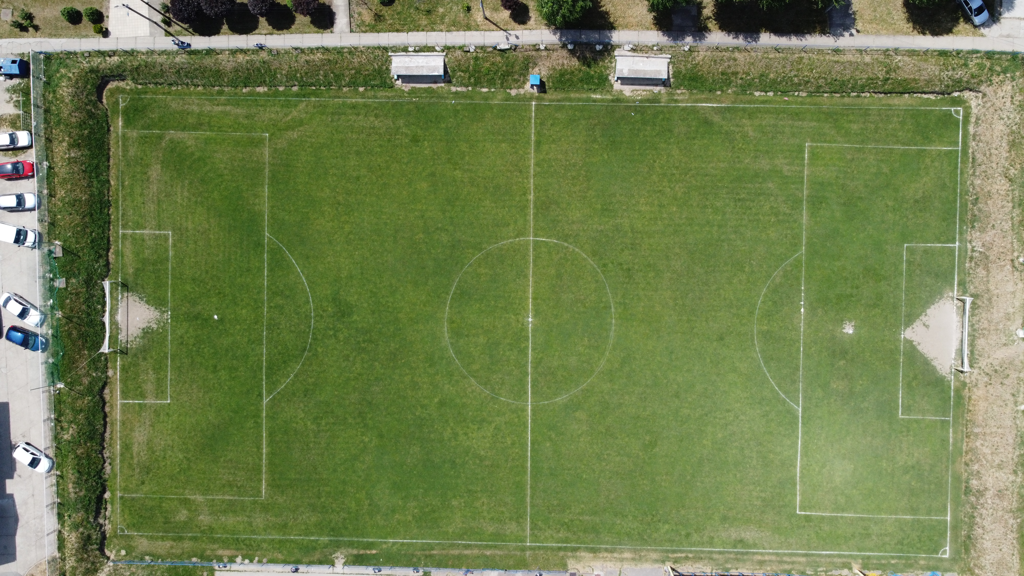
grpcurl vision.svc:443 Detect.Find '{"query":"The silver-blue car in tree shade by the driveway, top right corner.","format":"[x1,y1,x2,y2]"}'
[954,0,987,26]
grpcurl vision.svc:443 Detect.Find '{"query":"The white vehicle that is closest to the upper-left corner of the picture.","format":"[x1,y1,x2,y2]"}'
[0,129,35,151]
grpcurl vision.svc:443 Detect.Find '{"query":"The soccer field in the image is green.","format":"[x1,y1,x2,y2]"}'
[110,82,972,566]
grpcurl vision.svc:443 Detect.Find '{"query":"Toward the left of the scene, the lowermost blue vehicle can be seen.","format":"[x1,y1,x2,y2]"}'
[6,325,50,351]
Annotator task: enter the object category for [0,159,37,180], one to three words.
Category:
car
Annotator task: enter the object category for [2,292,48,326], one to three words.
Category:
car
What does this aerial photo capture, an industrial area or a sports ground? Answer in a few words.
sports ground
